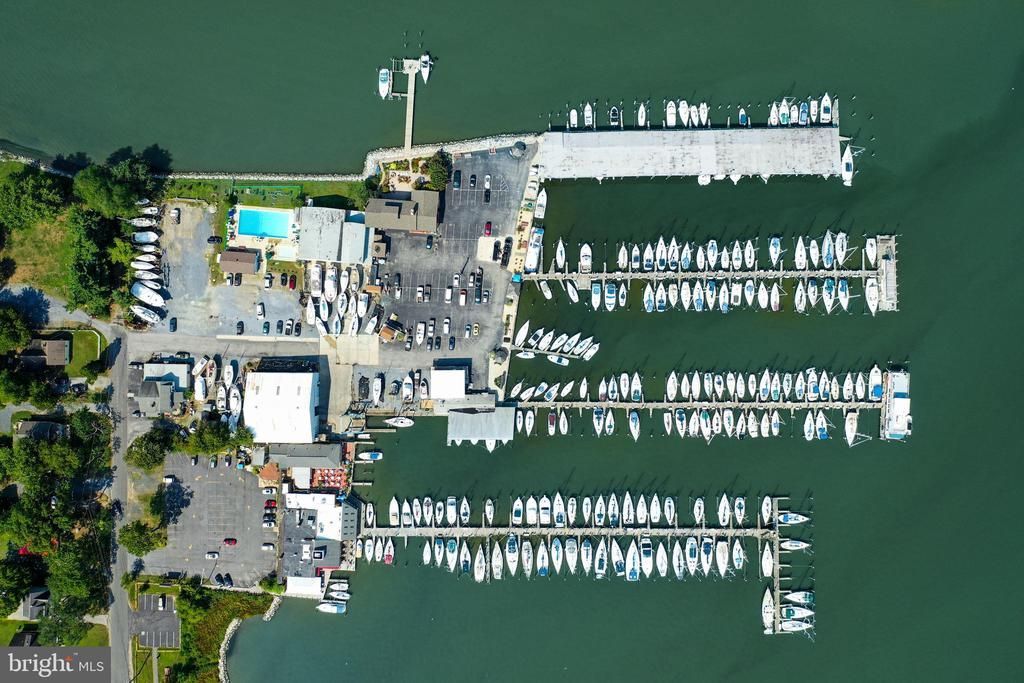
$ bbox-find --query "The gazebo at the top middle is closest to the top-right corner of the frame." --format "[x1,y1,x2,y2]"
[511,142,524,157]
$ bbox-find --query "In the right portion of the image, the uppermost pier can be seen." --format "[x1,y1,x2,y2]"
[541,99,852,179]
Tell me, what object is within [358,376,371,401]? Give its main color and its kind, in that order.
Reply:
black boat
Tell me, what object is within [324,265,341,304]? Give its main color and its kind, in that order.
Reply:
white boat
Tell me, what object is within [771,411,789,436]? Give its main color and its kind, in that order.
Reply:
white boat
